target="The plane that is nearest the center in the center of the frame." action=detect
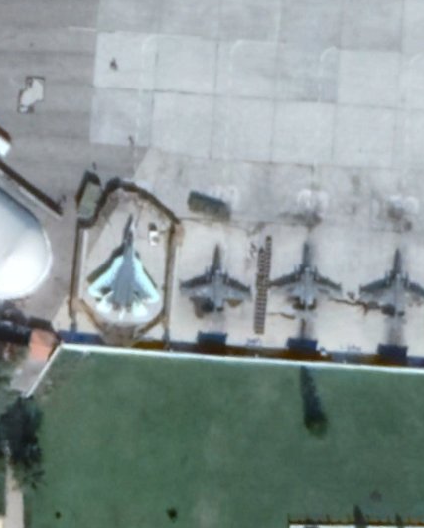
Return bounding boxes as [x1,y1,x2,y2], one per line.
[181,244,253,314]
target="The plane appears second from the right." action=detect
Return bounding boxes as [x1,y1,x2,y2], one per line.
[272,248,344,314]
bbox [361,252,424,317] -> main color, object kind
gray airplane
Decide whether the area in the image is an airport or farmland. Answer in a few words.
airport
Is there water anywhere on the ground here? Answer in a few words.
No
